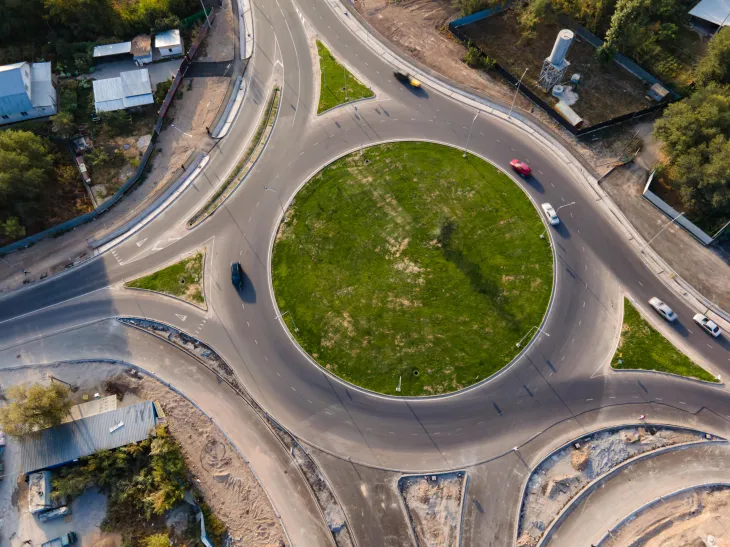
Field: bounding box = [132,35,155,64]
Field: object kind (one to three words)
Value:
shed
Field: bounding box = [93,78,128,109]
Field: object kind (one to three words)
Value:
house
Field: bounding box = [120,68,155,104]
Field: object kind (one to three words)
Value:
house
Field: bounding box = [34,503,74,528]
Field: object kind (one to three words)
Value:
vehicle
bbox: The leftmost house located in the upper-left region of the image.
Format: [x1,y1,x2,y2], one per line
[0,61,58,128]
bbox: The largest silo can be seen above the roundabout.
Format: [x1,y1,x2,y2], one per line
[538,26,581,92]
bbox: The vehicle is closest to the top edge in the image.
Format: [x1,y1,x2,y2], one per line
[395,73,419,88]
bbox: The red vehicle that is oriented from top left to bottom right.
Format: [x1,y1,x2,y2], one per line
[508,159,532,178]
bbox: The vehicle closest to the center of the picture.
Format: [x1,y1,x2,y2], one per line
[230,262,245,290]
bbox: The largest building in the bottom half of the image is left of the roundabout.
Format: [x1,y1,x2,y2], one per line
[22,402,159,473]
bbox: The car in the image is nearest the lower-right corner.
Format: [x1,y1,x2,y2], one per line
[691,314,723,337]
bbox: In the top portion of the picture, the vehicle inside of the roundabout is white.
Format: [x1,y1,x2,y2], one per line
[540,204,561,226]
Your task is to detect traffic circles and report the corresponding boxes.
[212,99,616,466]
